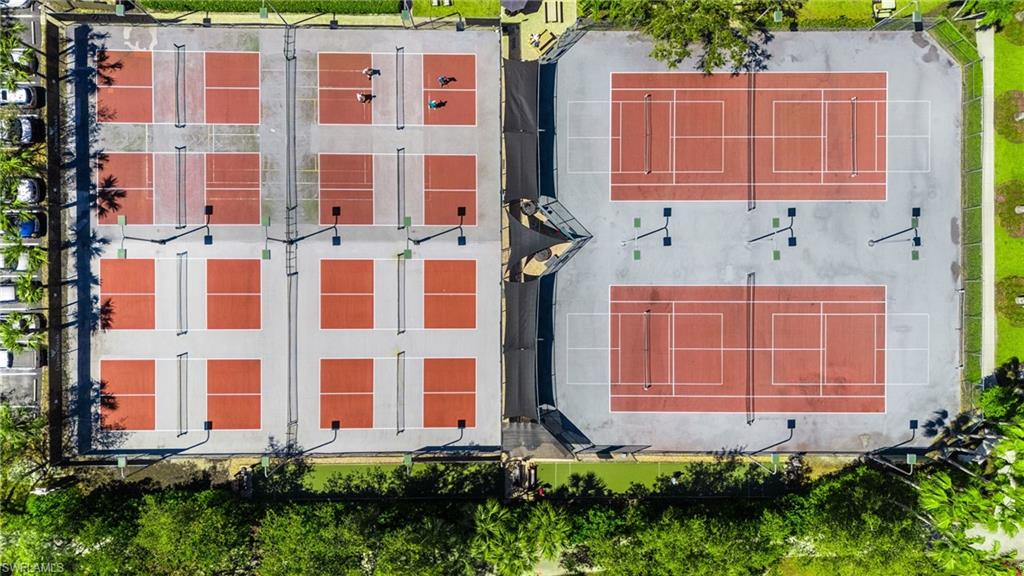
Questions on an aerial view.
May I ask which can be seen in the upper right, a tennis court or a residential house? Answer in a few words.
tennis court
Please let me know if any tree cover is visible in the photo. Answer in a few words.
Yes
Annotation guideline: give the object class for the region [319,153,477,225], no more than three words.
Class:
sports court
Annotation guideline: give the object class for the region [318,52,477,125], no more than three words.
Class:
sports court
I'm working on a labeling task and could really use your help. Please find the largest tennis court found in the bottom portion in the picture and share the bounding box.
[567,285,929,413]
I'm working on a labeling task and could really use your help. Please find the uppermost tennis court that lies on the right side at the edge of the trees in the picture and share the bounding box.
[567,72,931,202]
